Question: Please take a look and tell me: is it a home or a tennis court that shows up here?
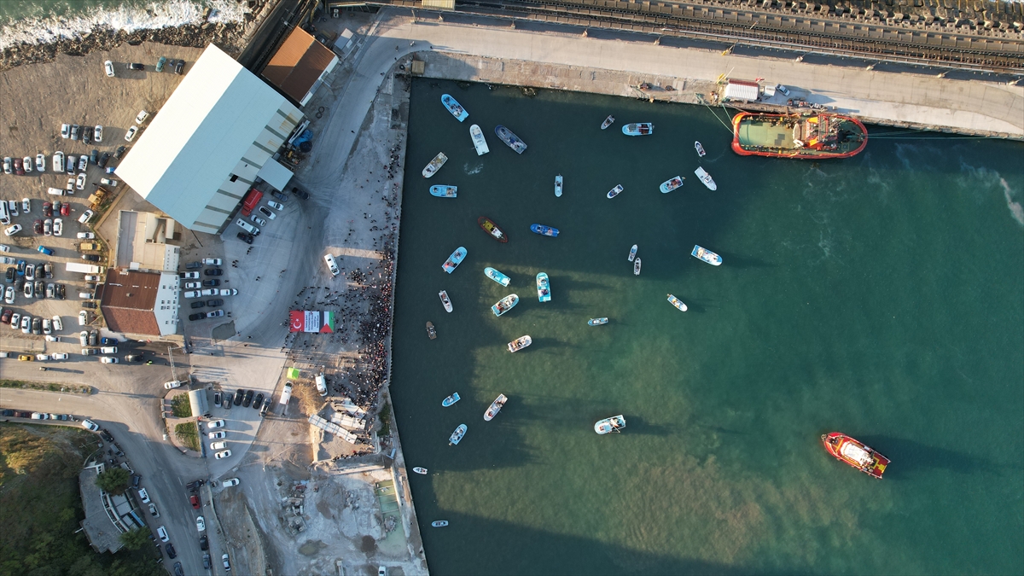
home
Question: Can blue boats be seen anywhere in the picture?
Yes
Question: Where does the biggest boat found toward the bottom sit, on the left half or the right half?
right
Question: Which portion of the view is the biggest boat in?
top right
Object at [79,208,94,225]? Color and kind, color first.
white car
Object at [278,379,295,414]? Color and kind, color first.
white vehicle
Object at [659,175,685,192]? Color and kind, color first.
blue boat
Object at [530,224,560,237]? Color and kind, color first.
blue boat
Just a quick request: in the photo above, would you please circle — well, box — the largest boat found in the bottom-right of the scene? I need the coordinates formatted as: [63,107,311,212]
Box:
[822,435,893,482]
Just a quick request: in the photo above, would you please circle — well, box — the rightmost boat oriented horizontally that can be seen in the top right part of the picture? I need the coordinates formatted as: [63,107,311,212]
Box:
[730,107,868,160]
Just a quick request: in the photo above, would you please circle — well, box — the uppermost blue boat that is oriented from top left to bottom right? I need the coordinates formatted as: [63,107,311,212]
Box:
[442,94,469,123]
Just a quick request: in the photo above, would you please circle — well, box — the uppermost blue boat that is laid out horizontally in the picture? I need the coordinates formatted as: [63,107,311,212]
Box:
[622,123,655,136]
